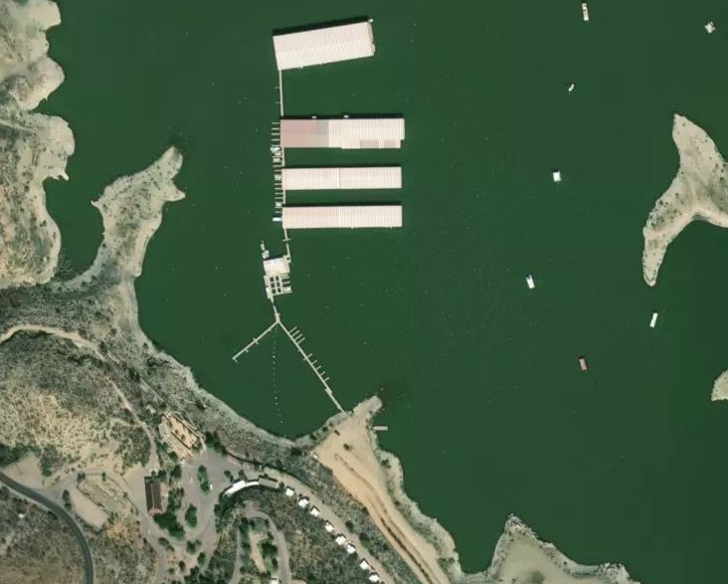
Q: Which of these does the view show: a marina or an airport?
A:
marina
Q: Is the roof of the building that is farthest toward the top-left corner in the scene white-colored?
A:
Yes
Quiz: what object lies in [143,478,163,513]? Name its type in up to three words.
building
